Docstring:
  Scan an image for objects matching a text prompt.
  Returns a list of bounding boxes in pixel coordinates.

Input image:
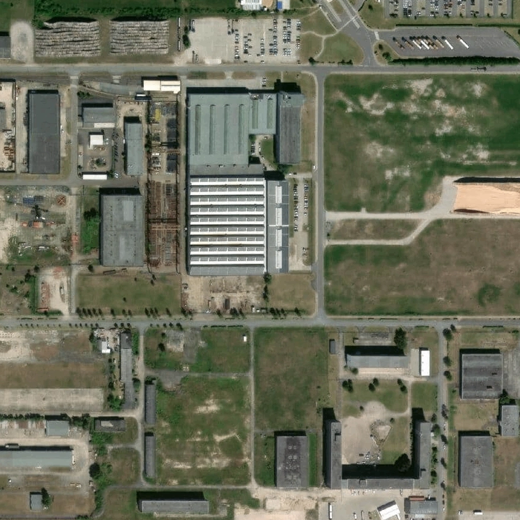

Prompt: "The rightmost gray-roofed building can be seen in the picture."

[500,406,519,436]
